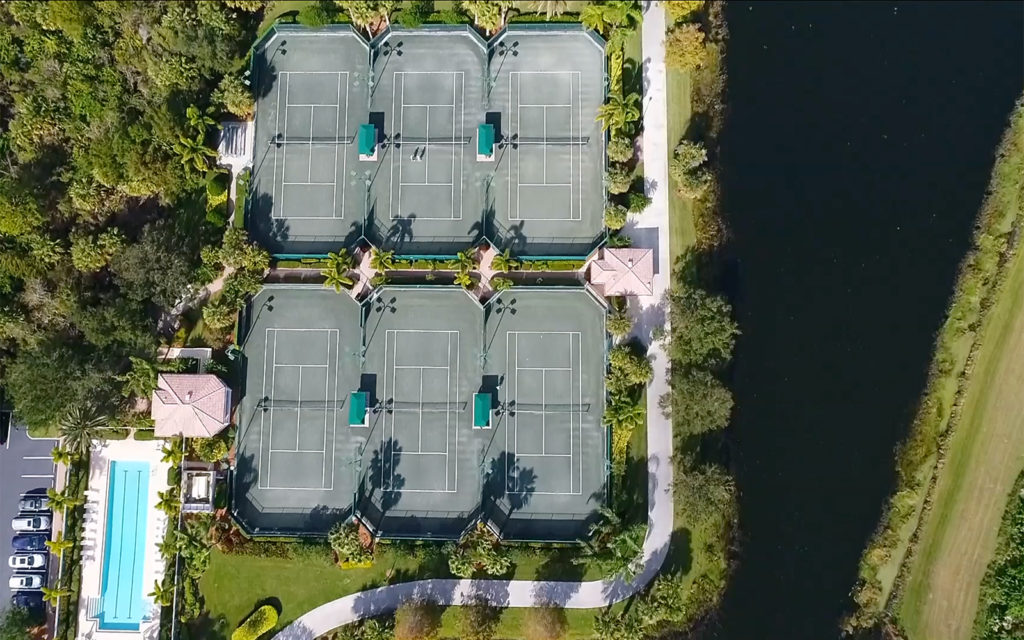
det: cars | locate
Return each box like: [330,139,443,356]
[12,516,50,533]
[11,535,49,552]
[7,574,43,590]
[16,498,51,514]
[8,592,45,606]
[8,554,46,570]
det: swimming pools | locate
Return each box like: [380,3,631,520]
[82,459,155,634]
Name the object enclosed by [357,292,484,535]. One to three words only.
tennis court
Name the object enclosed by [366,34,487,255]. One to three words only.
tennis court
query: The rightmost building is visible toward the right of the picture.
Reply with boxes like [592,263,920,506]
[590,248,654,296]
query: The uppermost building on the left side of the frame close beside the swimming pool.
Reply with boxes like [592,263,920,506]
[151,374,234,437]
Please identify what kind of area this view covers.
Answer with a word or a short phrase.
sports ground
